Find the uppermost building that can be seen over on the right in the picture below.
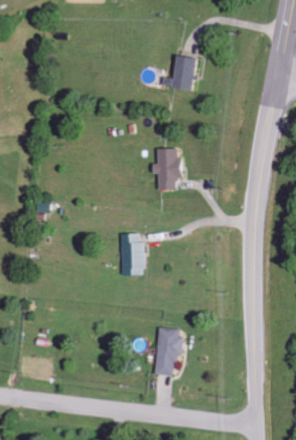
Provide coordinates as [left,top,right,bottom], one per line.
[162,56,198,90]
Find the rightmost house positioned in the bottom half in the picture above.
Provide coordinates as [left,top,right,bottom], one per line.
[155,328,182,376]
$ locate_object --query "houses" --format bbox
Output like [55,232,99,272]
[162,56,198,90]
[152,149,181,190]
[155,328,182,376]
[121,234,149,276]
